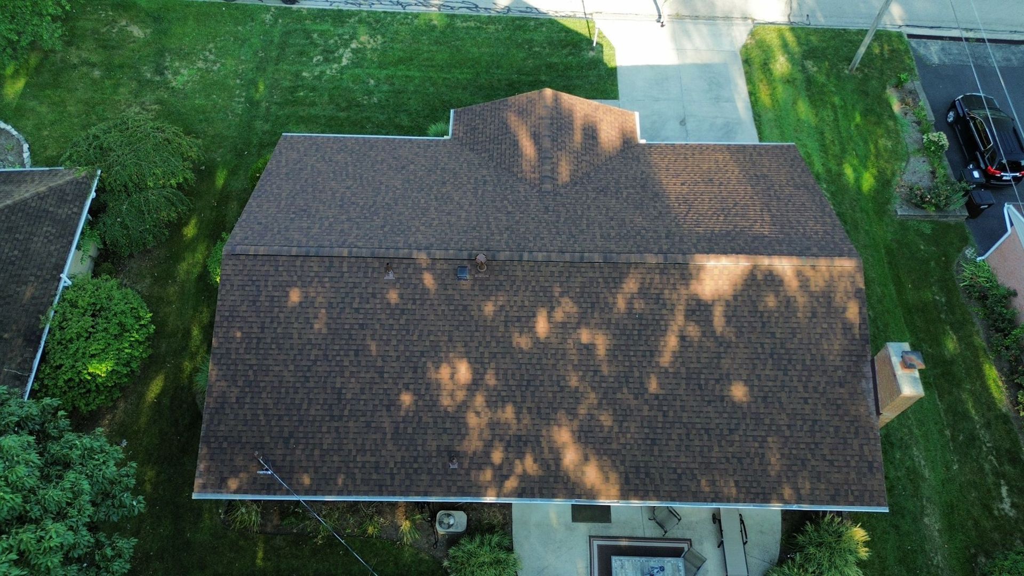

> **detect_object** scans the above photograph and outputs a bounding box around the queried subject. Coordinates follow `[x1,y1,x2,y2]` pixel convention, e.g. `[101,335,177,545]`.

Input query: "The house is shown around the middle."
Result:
[192,87,926,523]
